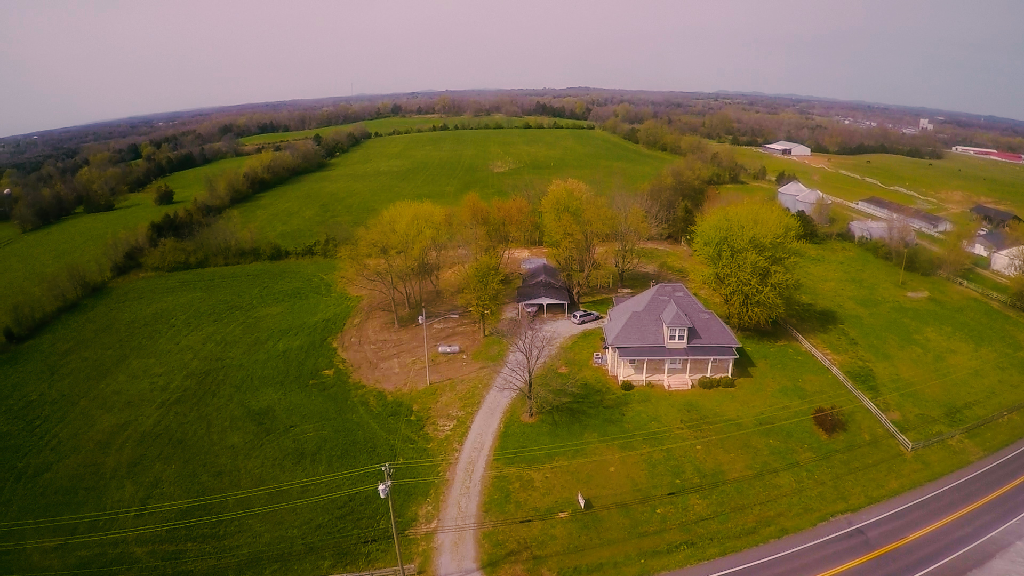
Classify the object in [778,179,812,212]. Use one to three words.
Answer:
silo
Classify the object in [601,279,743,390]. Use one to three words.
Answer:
house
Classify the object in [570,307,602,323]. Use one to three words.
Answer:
car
